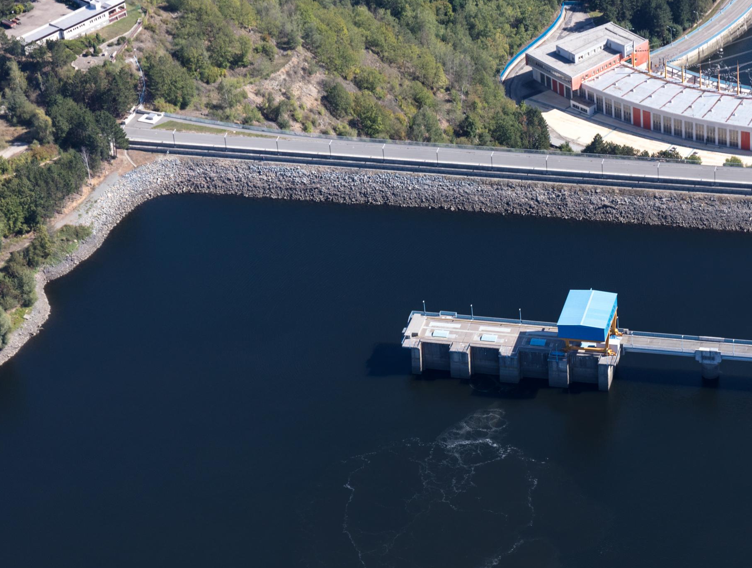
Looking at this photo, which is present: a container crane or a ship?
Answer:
container crane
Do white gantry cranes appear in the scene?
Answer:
No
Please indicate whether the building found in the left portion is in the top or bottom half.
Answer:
top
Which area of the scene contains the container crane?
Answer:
right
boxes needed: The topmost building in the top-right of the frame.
[525,21,649,96]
